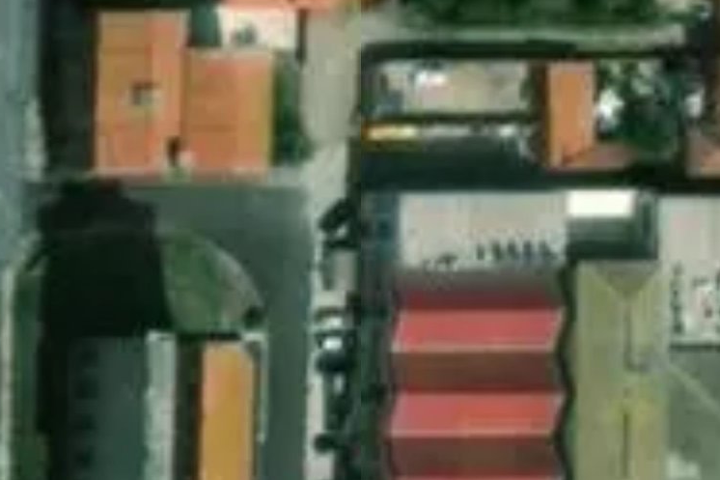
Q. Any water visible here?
No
